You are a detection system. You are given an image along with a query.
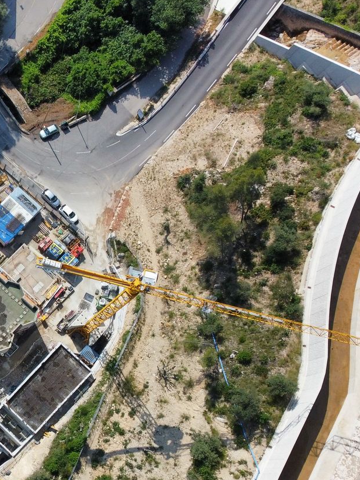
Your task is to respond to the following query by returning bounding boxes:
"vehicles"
[37,123,61,140]
[38,185,62,209]
[56,202,81,227]
[35,281,78,328]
